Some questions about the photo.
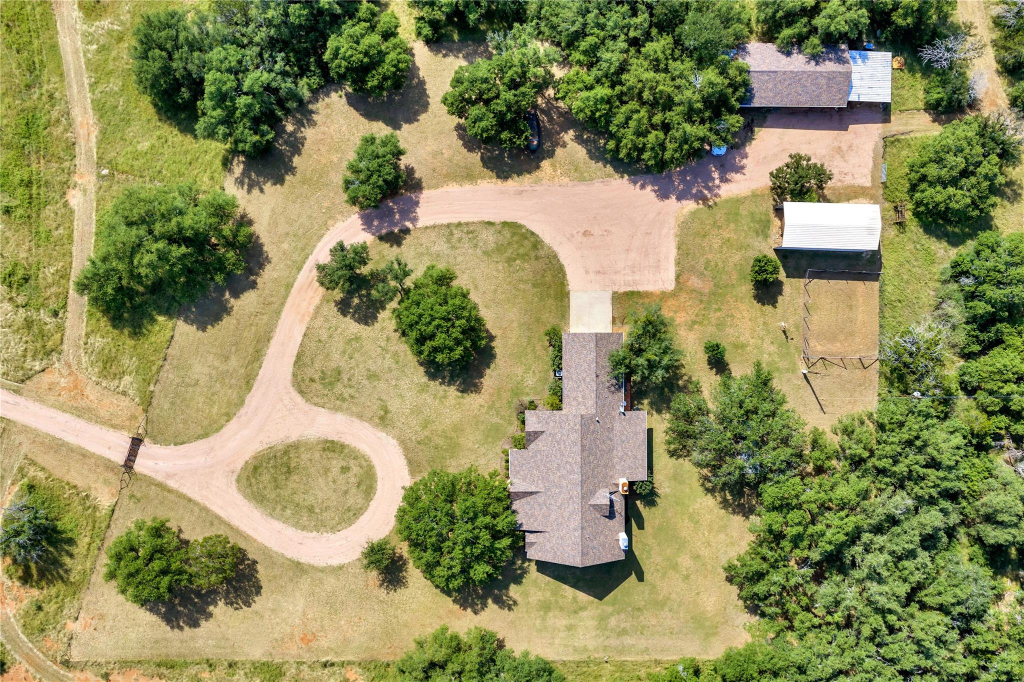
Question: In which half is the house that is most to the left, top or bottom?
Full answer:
The house that is most to the left is in the bottom half of the image.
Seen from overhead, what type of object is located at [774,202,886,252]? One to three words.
shed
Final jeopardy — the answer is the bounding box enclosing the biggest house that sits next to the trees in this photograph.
[509,333,648,567]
